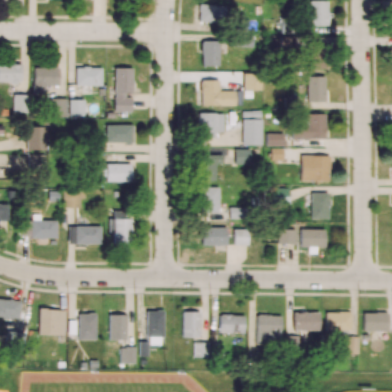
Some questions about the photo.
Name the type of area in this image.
residential area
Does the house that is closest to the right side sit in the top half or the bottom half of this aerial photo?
bottom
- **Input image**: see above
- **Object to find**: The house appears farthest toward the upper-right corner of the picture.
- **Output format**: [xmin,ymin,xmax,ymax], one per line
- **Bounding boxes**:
[311,0,331,26]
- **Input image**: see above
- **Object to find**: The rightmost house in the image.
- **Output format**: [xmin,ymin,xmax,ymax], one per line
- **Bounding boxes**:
[365,313,391,332]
